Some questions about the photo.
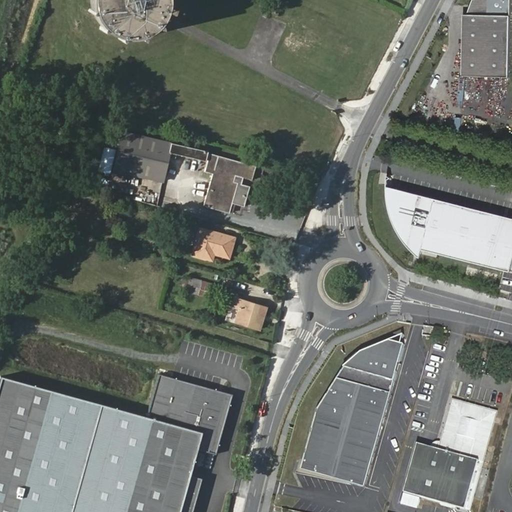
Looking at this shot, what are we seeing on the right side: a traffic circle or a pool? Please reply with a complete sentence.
What appears on the right side is a traffic circle.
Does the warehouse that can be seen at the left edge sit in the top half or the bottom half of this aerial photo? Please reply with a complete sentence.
The warehouse that can be seen at the left edge is in the bottom half of the image.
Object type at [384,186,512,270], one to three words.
building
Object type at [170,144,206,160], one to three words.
building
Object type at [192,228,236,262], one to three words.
house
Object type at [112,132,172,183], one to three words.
barn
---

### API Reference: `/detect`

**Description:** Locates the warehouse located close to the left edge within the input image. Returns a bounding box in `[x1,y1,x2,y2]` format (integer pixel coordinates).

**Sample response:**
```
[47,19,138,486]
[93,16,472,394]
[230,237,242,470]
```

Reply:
[0,375,202,512]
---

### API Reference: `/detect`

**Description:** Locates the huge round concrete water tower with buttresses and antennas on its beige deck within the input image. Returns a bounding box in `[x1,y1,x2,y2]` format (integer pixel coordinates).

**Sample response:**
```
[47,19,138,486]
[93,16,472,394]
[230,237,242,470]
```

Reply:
[87,0,178,45]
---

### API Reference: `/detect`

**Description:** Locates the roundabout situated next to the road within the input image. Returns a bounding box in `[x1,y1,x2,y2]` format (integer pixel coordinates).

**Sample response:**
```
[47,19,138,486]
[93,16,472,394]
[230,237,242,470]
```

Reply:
[300,241,386,327]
